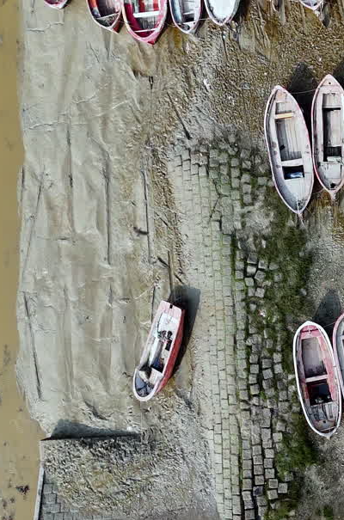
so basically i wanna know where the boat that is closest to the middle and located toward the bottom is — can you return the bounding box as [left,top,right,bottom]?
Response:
[132,297,180,399]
